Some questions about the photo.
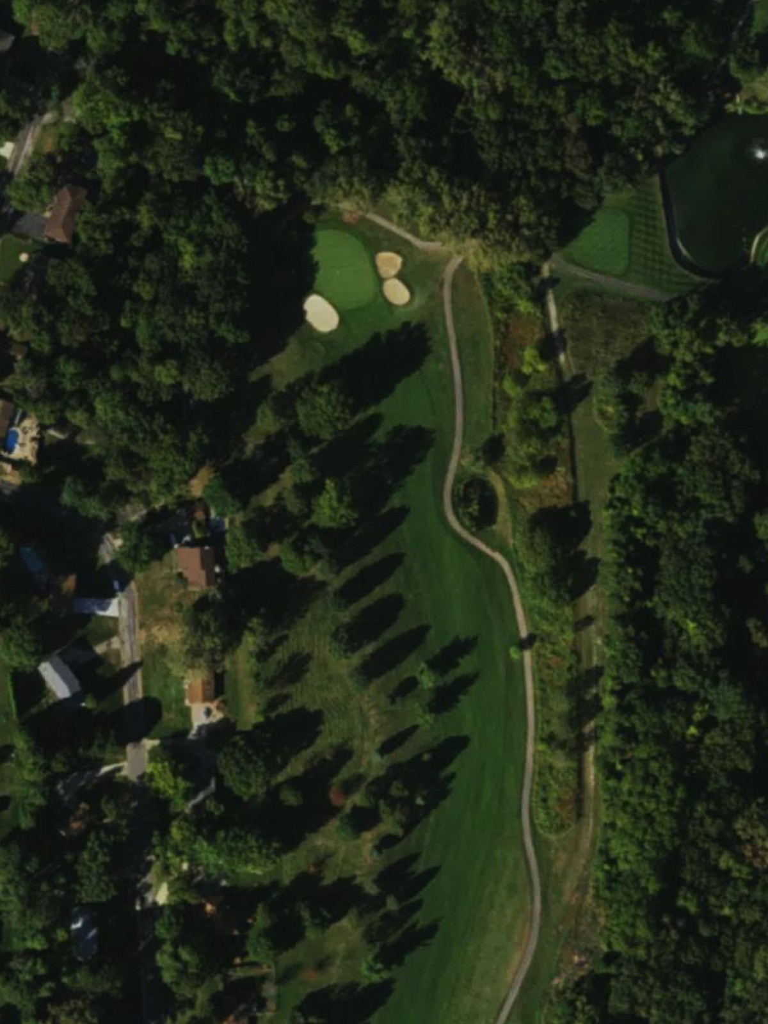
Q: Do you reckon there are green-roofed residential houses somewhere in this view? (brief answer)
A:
No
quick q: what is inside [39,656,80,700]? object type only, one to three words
house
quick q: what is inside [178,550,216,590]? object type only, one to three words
house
